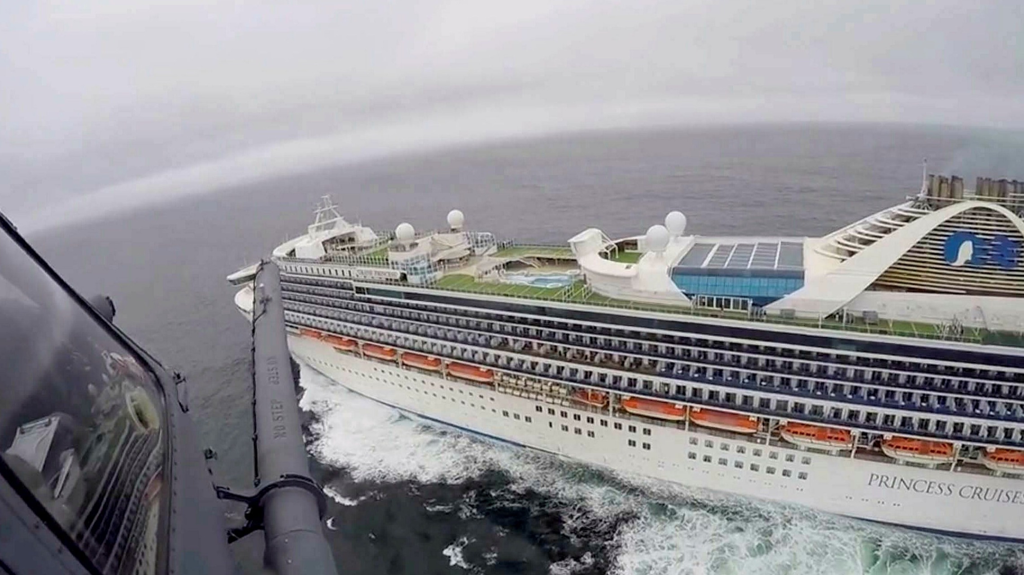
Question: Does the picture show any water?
Yes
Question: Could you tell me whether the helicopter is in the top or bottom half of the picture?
bottom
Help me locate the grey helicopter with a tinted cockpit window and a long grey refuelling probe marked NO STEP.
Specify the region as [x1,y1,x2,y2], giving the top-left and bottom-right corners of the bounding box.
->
[0,209,337,575]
